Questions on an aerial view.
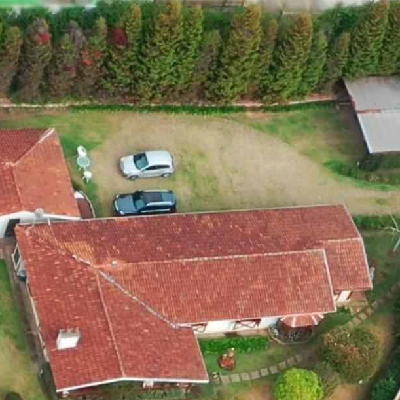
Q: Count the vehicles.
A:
2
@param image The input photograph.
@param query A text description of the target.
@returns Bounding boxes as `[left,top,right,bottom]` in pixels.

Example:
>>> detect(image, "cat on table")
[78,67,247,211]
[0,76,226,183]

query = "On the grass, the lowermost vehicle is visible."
[111,185,181,217]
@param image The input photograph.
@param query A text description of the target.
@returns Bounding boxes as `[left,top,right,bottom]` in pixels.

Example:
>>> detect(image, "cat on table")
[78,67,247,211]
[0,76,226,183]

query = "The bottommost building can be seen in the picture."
[17,204,376,400]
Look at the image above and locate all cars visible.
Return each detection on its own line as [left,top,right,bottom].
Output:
[116,149,179,184]
[111,185,181,217]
